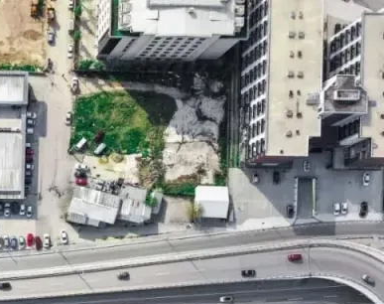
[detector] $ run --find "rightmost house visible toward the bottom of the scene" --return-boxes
[191,186,230,217]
